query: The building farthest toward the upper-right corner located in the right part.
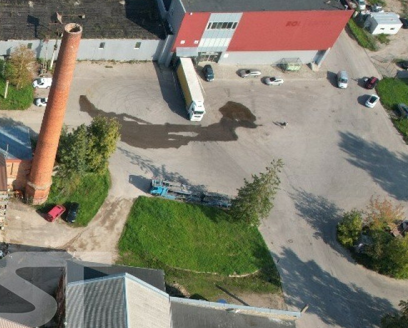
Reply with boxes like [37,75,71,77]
[363,12,401,35]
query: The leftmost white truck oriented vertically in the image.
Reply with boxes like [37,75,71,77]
[178,57,207,120]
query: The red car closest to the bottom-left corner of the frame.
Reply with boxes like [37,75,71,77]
[46,204,65,224]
